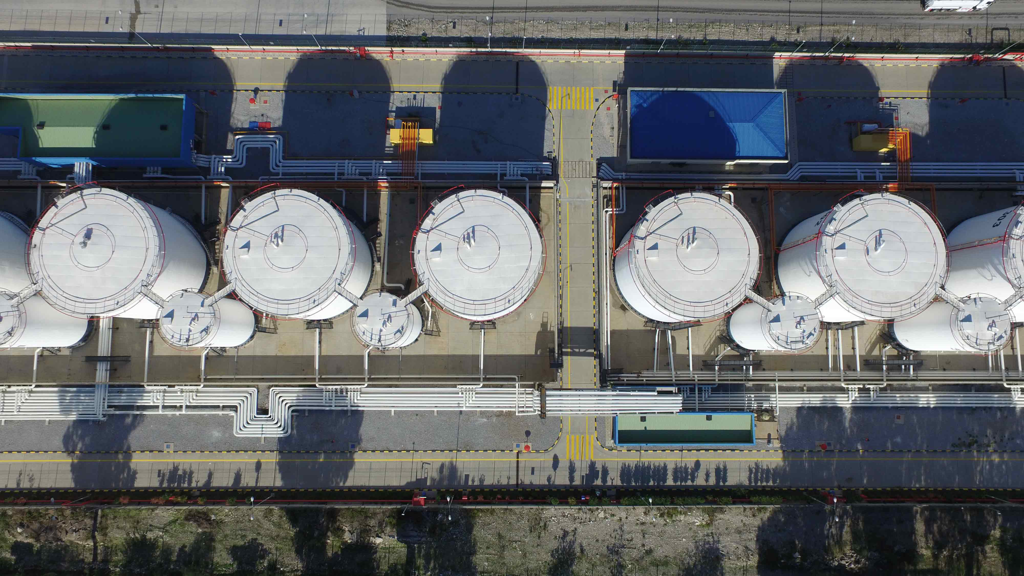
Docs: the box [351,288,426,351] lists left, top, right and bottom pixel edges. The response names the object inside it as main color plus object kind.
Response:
white storage tank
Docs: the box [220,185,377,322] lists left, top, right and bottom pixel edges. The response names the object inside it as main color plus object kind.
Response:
white storage tank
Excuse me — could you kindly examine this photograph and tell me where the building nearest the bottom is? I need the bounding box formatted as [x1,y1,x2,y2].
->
[612,410,756,446]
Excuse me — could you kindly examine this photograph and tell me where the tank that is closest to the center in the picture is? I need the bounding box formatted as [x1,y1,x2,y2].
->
[410,187,547,322]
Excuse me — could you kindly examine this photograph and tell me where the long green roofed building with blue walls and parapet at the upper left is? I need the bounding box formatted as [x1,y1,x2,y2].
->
[0,94,207,165]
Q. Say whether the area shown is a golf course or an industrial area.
industrial area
